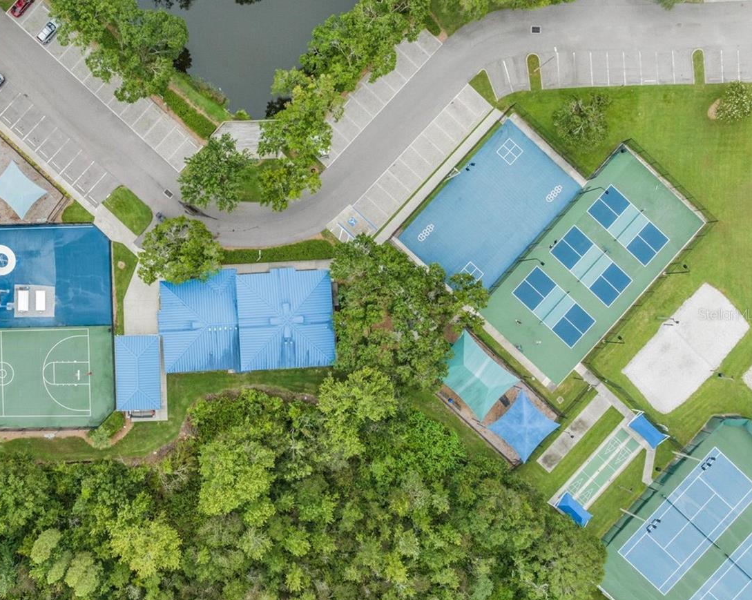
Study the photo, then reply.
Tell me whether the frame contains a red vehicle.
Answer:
Yes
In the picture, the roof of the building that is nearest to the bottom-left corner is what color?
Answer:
blue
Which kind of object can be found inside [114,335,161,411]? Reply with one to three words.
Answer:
building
